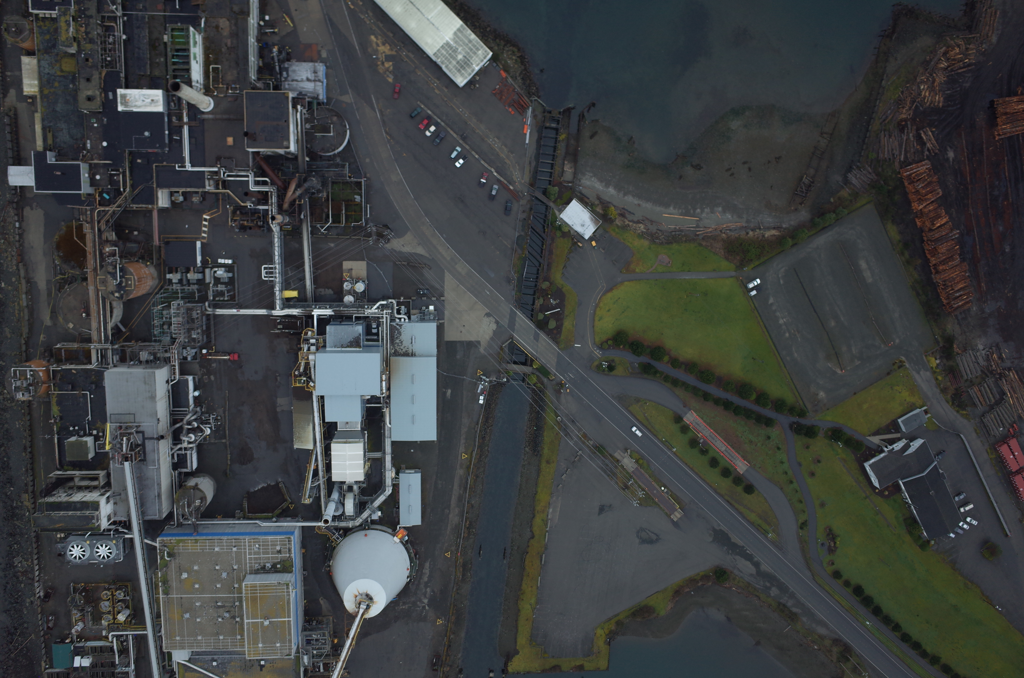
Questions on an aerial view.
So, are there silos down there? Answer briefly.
Yes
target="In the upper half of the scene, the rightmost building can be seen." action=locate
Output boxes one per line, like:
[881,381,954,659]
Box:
[558,199,602,239]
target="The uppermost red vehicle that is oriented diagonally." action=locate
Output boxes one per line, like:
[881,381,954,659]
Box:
[418,115,432,130]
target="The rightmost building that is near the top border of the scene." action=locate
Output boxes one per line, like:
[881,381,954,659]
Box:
[370,0,493,91]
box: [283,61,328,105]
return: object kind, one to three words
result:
shed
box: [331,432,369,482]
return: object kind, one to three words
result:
building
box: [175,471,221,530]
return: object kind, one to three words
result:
silo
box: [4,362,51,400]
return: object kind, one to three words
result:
storage tank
